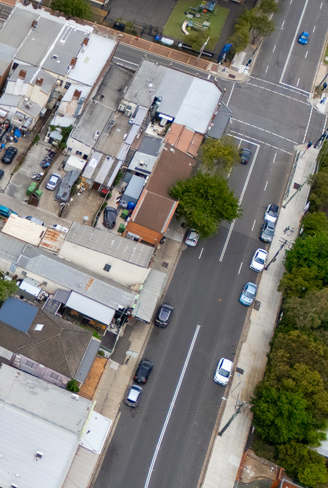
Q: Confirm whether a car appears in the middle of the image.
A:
Yes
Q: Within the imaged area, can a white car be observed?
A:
Yes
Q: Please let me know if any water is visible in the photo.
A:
No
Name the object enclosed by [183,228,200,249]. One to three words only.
car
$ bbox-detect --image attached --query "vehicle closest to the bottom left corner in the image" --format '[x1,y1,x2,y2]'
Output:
[122,383,143,410]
